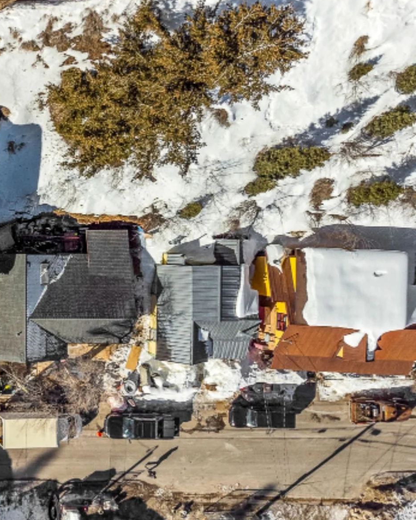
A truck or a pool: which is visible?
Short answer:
truck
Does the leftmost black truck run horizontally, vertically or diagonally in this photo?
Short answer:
horizontally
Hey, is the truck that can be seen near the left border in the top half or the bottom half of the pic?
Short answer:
bottom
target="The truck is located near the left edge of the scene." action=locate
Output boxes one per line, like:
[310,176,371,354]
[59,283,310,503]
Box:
[0,414,77,450]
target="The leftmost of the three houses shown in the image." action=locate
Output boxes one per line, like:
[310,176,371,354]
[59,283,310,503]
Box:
[0,230,137,364]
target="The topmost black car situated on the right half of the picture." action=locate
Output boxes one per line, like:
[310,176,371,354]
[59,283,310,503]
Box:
[227,401,299,434]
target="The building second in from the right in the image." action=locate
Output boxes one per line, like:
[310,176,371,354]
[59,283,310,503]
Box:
[144,239,261,365]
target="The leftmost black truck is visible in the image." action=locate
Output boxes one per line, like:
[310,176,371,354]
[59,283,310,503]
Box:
[105,411,181,445]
